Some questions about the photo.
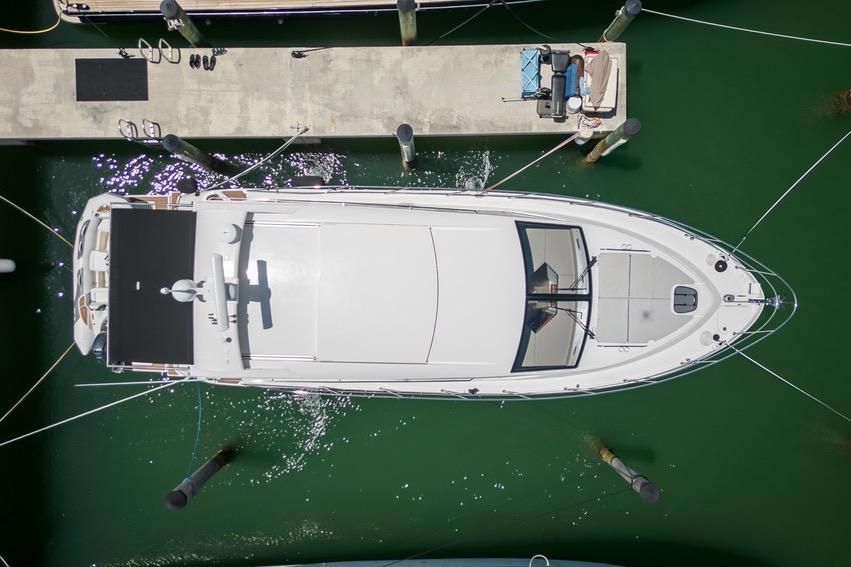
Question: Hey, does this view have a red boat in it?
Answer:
No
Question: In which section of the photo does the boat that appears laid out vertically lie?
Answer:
left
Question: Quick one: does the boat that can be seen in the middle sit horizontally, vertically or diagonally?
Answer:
horizontally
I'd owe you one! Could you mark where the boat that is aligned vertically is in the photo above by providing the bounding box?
[71,191,134,357]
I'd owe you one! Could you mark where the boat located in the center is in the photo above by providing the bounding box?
[76,186,797,402]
